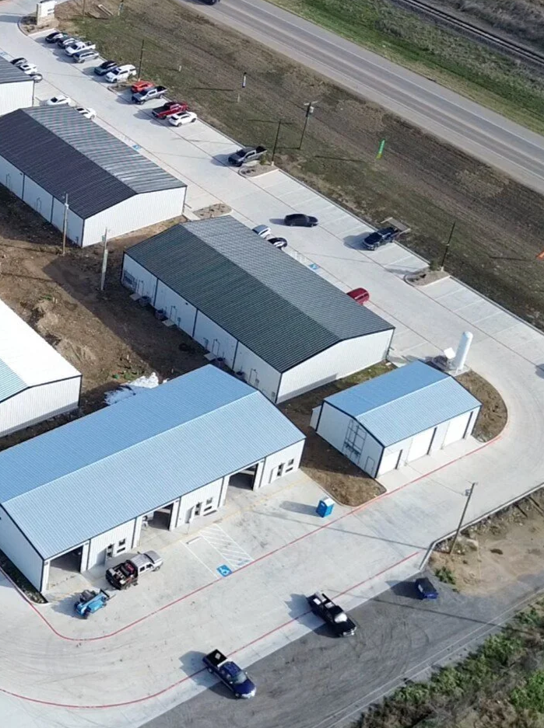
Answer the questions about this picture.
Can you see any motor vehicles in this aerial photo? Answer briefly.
Yes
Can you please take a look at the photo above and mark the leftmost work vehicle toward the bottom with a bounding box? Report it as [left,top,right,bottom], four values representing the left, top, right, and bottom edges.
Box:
[72,585,120,620]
